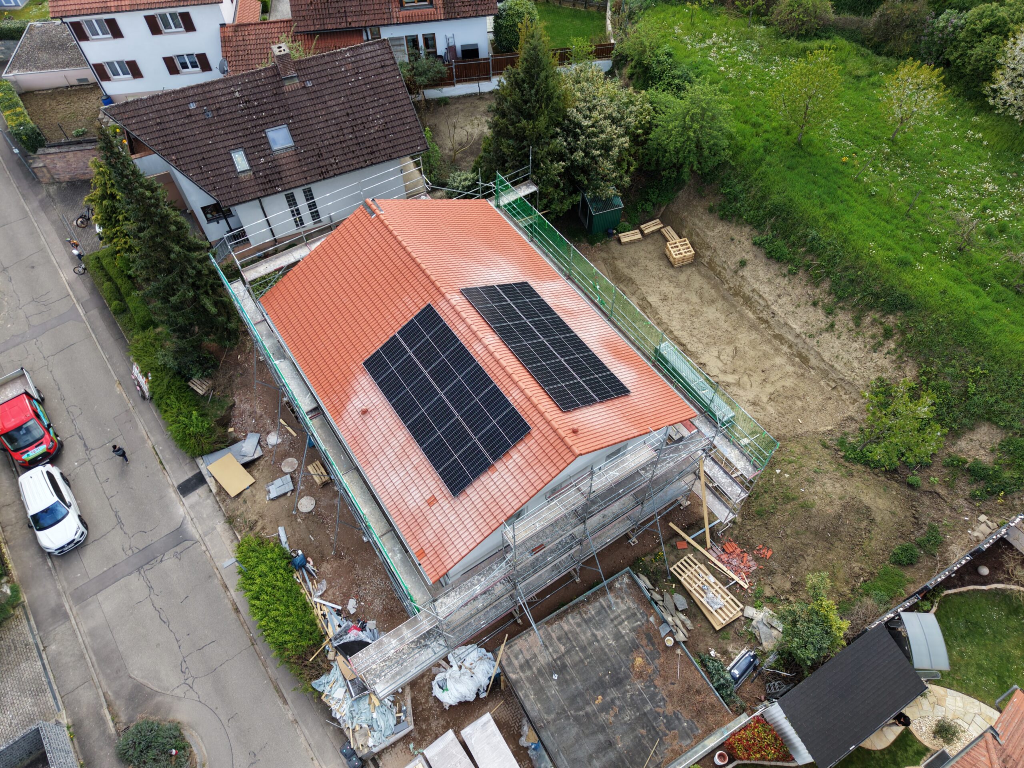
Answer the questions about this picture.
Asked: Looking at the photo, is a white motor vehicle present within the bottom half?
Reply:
Yes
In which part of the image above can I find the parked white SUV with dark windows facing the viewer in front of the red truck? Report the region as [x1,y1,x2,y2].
[17,459,94,555]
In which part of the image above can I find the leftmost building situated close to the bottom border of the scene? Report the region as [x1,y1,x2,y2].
[493,566,775,768]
